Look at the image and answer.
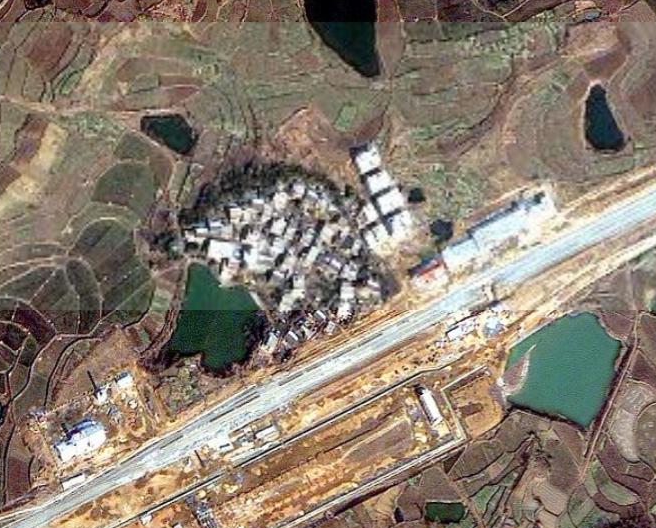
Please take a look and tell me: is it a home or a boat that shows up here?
home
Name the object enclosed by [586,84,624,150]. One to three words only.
pond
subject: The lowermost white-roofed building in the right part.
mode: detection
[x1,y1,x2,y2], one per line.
[420,391,443,424]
